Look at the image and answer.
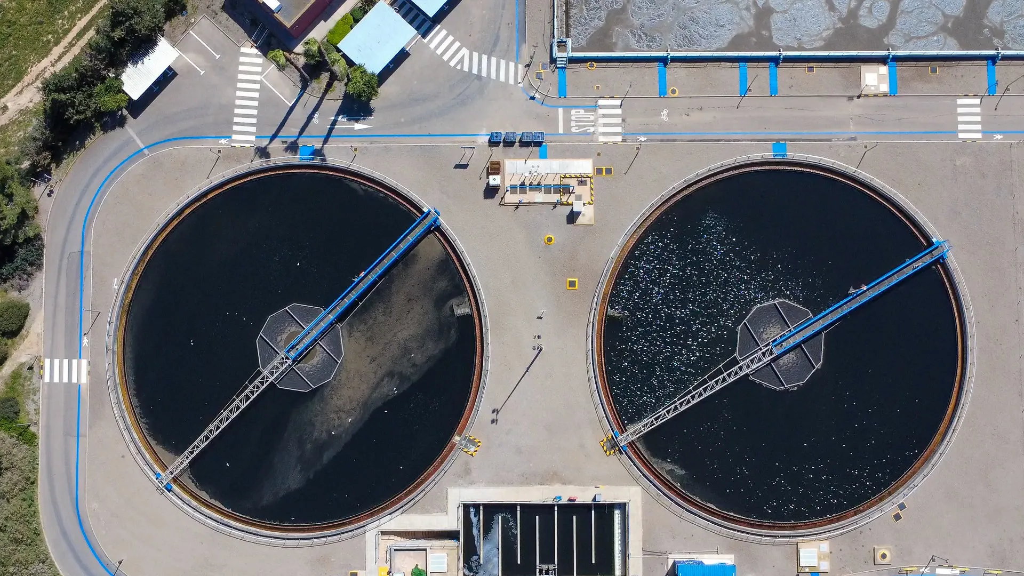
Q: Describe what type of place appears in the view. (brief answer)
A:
industrial area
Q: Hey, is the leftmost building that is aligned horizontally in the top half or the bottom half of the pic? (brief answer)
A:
top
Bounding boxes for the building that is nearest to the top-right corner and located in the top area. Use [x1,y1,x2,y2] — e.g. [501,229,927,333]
[504,159,594,225]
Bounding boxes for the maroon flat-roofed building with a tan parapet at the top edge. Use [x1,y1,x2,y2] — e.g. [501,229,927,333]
[248,0,338,42]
